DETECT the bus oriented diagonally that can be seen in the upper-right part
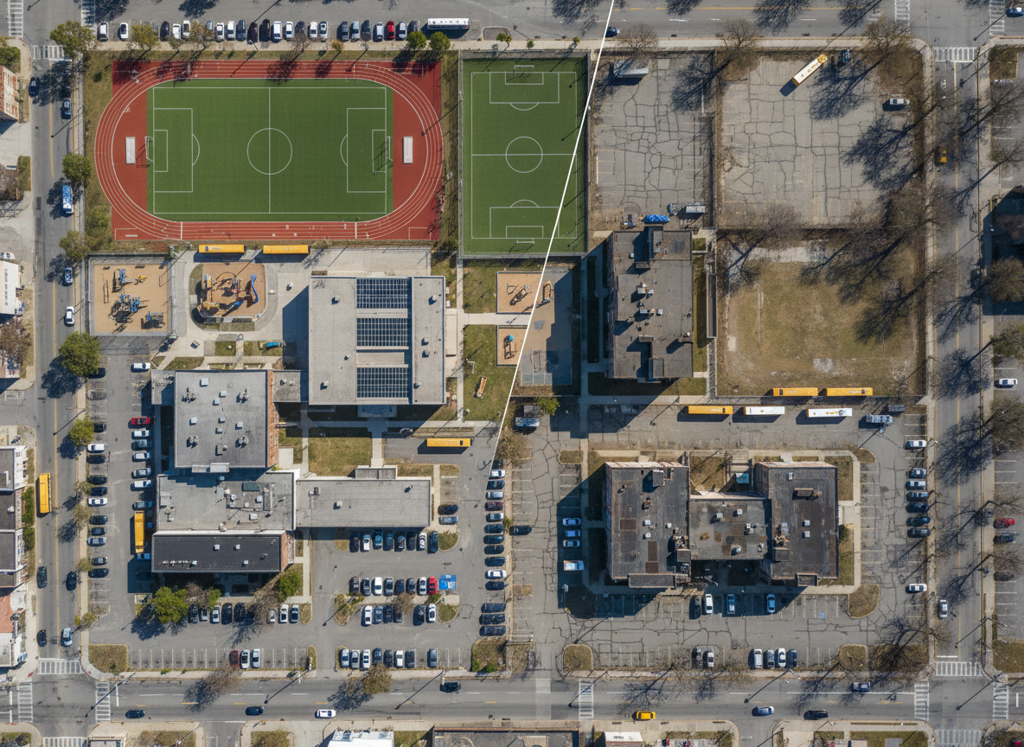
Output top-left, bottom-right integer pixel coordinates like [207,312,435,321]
[787,53,830,91]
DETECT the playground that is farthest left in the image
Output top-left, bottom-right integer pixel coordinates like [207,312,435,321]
[89,254,174,335]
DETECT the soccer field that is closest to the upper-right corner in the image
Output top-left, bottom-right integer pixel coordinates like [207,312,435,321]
[460,50,587,257]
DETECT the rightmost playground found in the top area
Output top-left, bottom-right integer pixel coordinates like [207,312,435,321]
[198,264,264,316]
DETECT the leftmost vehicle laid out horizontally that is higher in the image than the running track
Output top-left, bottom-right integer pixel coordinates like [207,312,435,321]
[428,19,471,33]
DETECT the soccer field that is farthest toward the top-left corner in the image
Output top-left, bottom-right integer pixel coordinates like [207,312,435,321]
[146,79,393,221]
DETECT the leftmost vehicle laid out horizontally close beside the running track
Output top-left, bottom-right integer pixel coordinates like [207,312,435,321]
[199,243,248,255]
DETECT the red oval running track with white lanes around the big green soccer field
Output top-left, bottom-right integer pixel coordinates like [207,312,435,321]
[94,60,443,240]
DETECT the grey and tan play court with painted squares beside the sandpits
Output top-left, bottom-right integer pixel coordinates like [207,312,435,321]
[522,342,572,386]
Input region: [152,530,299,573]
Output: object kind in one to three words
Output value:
building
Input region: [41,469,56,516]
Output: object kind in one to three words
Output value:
vehicle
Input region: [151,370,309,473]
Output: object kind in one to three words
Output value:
building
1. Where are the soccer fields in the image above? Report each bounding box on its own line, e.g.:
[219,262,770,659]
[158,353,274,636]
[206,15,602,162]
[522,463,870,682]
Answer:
[146,79,393,221]
[460,50,587,257]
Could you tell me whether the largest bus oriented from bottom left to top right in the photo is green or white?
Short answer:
white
